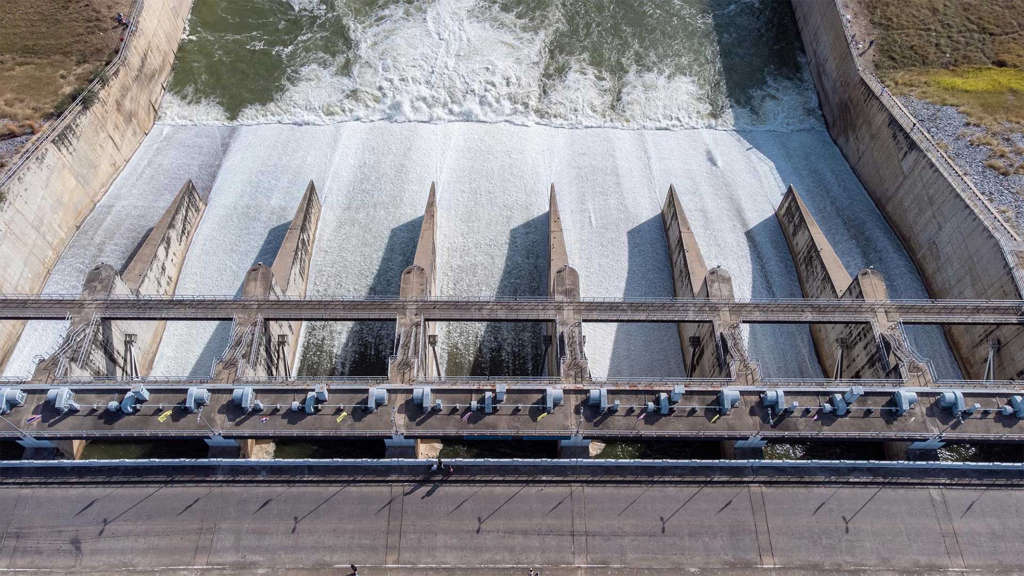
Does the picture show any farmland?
No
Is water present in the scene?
Yes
